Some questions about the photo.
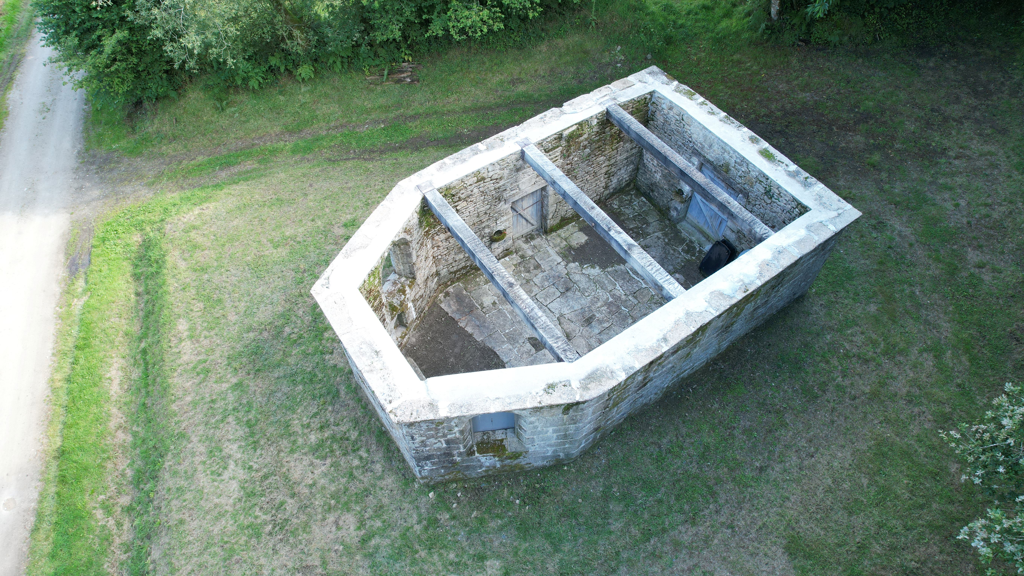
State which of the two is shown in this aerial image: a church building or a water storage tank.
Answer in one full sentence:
The image shows a church building.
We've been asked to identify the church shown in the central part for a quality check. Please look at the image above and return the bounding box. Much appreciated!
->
[310,68,860,486]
